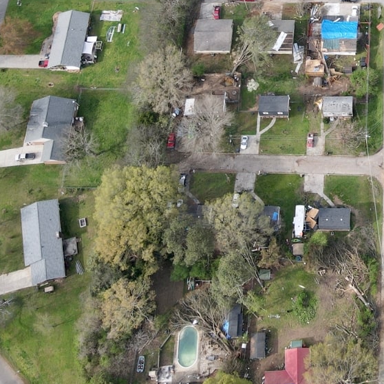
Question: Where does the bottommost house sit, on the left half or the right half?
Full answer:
It is on the right.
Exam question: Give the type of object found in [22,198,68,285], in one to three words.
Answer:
house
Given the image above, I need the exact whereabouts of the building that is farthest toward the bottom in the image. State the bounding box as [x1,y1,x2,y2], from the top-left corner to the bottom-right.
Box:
[264,349,335,384]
